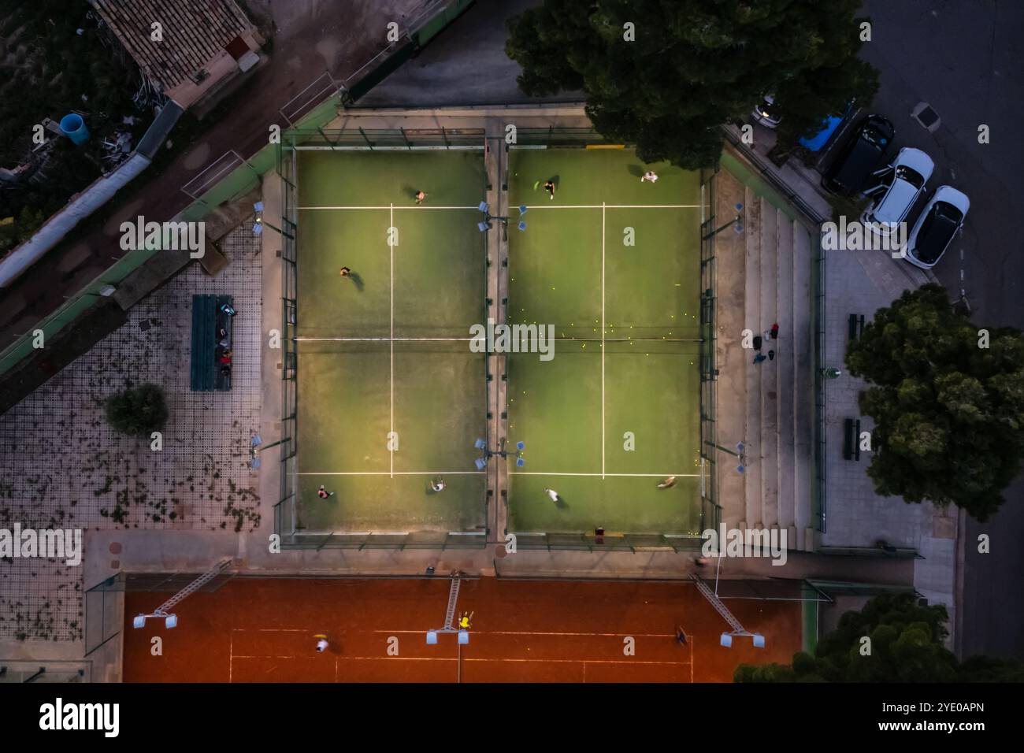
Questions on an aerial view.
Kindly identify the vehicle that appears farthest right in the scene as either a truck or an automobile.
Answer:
automobile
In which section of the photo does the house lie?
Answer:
top left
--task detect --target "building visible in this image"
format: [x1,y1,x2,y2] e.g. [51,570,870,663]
[97,0,274,108]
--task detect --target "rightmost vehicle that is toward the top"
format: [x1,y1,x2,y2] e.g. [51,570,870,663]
[902,185,969,271]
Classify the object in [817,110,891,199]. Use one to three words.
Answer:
car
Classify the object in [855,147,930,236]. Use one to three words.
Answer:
car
